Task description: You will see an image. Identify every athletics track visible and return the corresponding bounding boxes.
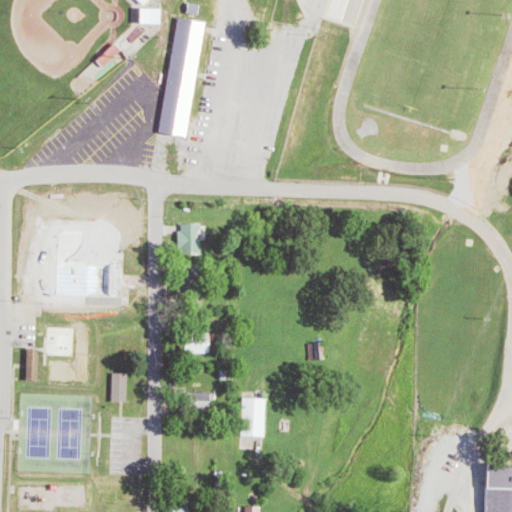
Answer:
[334,0,512,176]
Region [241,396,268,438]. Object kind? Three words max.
house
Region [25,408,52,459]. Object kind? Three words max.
tennis court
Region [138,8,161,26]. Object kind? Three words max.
building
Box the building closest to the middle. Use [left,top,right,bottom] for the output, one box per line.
[178,223,207,256]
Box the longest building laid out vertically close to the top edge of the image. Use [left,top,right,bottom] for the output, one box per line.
[158,18,206,138]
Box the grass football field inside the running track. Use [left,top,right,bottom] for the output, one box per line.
[346,0,512,162]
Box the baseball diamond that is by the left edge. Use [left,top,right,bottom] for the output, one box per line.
[0,0,131,157]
